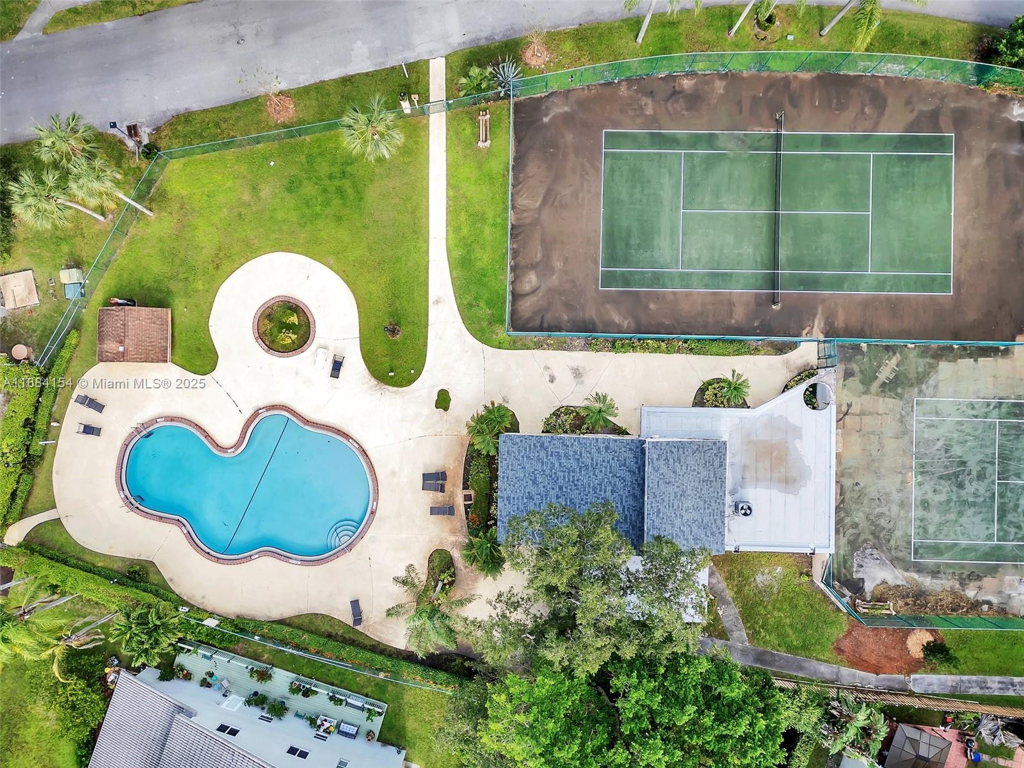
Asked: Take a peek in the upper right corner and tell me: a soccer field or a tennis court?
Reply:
tennis court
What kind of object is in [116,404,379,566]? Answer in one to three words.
swimming pool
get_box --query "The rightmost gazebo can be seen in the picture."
[867,715,951,768]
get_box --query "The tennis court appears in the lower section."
[820,343,1024,618]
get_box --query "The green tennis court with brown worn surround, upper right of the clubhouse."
[511,70,1024,346]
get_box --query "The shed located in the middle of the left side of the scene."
[96,306,174,364]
